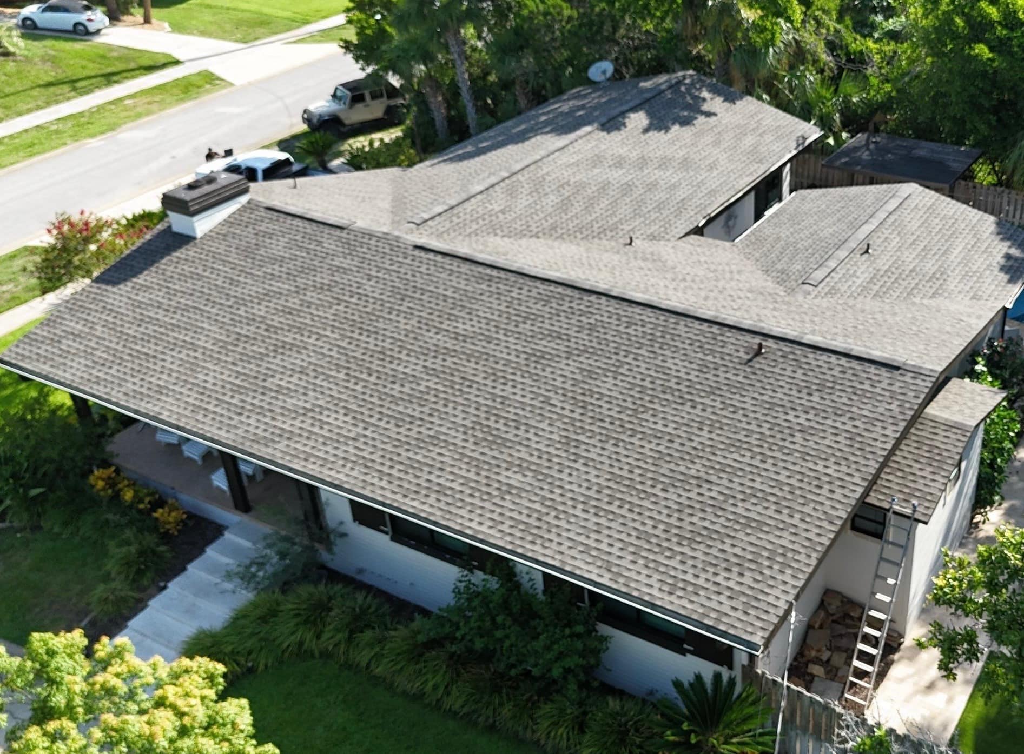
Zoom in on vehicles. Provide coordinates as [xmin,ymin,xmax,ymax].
[302,67,413,133]
[21,0,114,34]
[158,144,361,200]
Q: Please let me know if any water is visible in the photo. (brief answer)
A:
No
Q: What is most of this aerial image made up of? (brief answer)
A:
buildings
